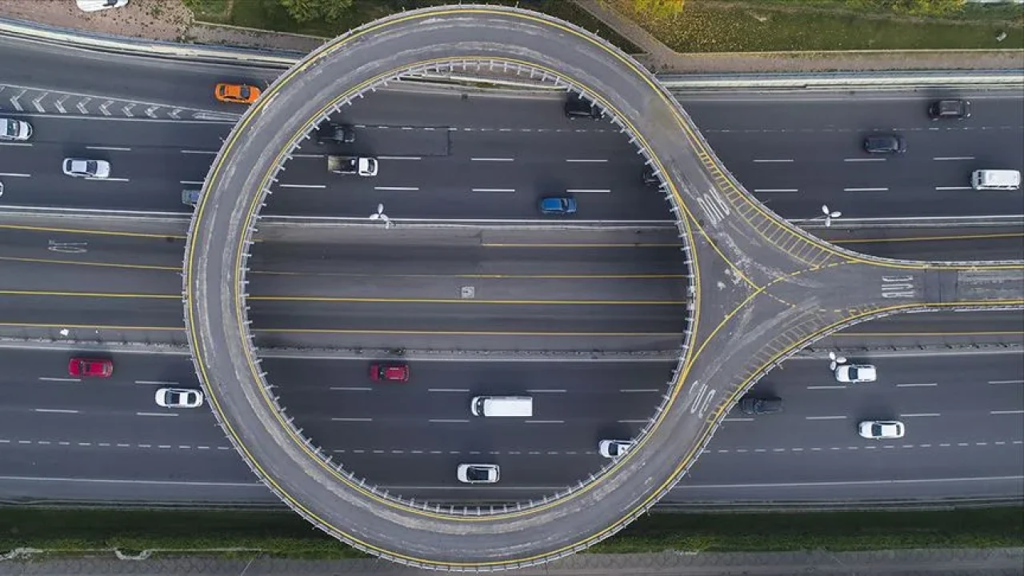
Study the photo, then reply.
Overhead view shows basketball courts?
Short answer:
No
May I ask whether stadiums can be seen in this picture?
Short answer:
No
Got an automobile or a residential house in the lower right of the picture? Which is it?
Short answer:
automobile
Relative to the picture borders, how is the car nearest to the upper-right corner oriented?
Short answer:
from left to right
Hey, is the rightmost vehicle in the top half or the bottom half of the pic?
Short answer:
top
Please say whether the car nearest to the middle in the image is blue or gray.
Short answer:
blue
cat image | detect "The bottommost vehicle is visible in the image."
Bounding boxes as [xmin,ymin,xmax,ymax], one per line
[458,463,500,486]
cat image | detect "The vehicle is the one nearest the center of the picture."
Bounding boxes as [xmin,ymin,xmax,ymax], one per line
[539,195,578,216]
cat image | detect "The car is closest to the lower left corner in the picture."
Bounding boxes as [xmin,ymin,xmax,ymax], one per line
[69,357,115,379]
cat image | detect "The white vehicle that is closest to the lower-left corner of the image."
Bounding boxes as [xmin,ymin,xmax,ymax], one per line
[156,387,204,410]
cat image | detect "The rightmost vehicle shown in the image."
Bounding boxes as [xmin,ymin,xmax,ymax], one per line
[968,168,1019,192]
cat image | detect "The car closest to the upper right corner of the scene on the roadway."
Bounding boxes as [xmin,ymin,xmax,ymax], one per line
[926,97,972,121]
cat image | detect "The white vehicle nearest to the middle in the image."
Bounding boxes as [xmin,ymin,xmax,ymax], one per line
[472,394,533,418]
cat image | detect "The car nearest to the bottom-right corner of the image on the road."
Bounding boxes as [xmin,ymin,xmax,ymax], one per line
[857,419,903,441]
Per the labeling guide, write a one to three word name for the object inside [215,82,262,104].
car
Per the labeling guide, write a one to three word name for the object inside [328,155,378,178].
truck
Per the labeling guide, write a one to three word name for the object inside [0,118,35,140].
car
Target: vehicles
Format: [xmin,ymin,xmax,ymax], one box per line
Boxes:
[857,419,903,441]
[739,395,783,417]
[62,157,112,179]
[968,168,1019,192]
[312,122,357,144]
[370,362,410,384]
[642,167,667,186]
[70,0,129,13]
[833,363,876,385]
[472,394,533,418]
[215,82,262,104]
[563,96,608,117]
[926,97,972,121]
[156,387,204,410]
[0,118,35,140]
[598,438,636,459]
[182,188,204,206]
[458,463,500,486]
[328,155,378,178]
[539,195,578,216]
[69,357,115,379]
